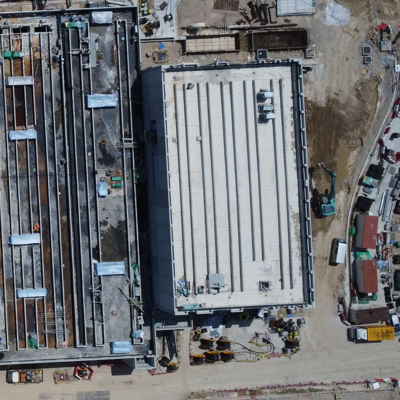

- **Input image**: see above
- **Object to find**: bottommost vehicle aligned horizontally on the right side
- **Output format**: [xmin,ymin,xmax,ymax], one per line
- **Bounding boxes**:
[347,326,398,343]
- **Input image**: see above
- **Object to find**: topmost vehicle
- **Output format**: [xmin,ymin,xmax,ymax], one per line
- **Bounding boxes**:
[315,168,339,222]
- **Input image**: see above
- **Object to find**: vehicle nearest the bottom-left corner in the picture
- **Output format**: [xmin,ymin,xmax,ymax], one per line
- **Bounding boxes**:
[7,369,42,386]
